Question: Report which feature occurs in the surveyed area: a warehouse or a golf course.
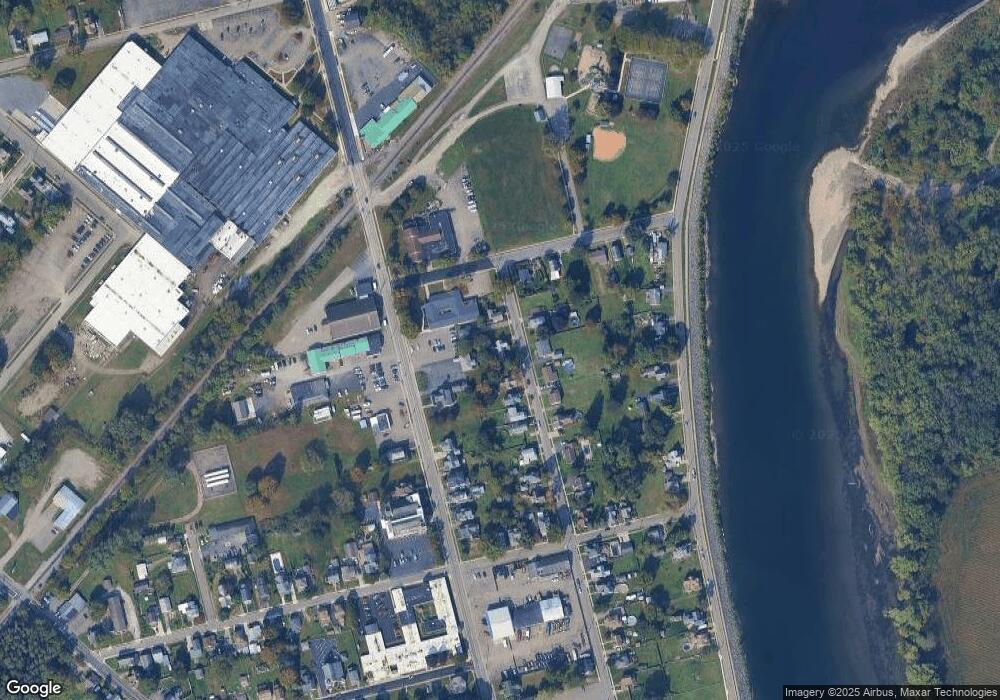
warehouse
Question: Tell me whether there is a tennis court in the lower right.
No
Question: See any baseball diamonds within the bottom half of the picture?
No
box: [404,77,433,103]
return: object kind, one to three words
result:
building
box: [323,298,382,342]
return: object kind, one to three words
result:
barn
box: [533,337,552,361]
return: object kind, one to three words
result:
house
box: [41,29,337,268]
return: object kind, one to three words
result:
warehouse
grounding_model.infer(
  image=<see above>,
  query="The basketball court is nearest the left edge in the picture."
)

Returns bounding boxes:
[545,26,573,58]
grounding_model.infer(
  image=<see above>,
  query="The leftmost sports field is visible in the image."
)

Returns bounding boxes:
[446,109,574,249]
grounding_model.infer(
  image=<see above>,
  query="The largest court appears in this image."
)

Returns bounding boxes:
[625,59,667,103]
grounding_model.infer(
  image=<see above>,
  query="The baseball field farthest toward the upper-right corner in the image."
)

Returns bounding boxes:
[591,124,627,161]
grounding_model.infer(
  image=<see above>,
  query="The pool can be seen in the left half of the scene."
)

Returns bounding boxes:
[271,552,284,573]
